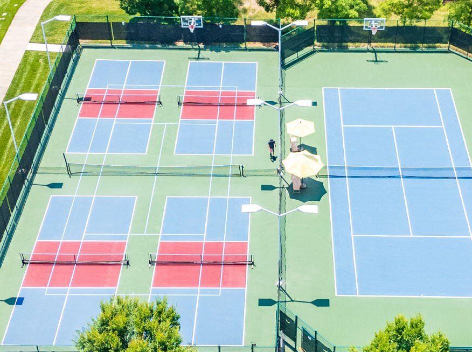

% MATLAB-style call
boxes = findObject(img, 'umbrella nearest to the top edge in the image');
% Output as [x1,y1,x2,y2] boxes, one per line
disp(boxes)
[289,121,317,142]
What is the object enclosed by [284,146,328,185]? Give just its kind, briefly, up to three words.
umbrella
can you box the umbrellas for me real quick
[289,121,317,142]
[284,146,328,185]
